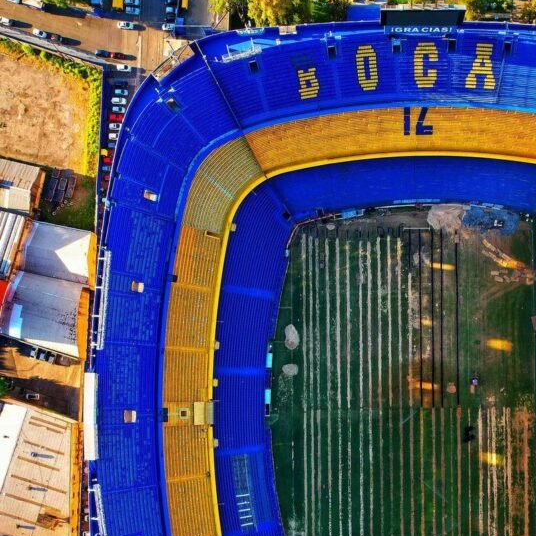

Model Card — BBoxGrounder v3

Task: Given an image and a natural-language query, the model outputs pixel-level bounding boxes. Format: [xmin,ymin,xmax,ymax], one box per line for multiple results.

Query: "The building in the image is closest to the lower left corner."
[0,401,83,536]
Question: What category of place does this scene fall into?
sports ground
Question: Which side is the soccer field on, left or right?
right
